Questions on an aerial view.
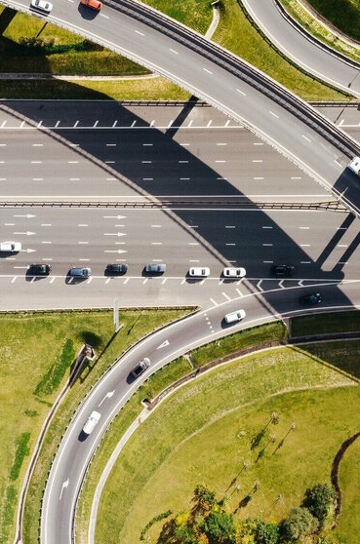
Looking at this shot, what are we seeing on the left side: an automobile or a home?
automobile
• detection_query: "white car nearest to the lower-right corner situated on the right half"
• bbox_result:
[223,311,247,325]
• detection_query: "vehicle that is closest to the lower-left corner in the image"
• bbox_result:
[82,411,101,435]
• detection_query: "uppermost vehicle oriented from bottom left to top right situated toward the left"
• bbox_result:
[129,357,151,379]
